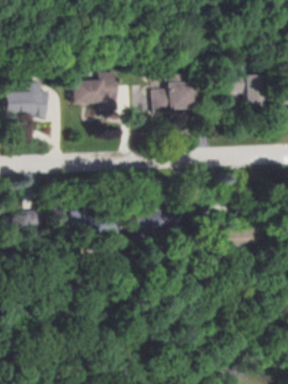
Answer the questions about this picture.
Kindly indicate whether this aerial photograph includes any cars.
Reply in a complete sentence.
No, I can't see a single car in this photo.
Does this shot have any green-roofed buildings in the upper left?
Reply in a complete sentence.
No, there is no green-roofed building in the upper left.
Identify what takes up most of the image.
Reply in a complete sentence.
Most of the picture is covered by trees.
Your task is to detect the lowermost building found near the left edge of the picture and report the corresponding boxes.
[12,211,40,227]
